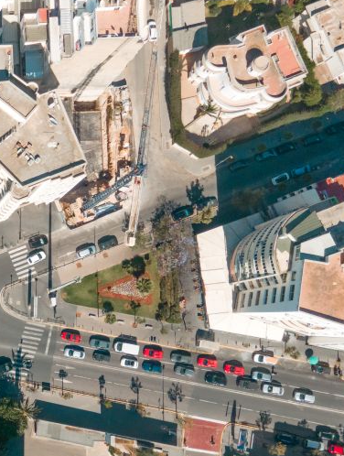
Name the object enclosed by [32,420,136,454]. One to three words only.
building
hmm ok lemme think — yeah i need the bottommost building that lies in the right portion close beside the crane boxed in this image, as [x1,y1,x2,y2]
[184,195,344,345]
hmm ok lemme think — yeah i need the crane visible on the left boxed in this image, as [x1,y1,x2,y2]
[73,0,166,247]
